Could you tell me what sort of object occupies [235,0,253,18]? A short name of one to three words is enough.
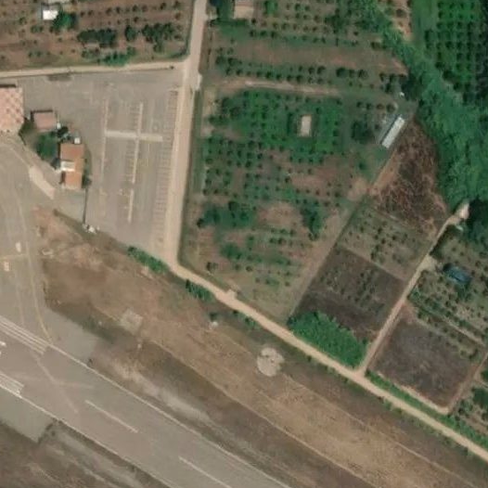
shed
